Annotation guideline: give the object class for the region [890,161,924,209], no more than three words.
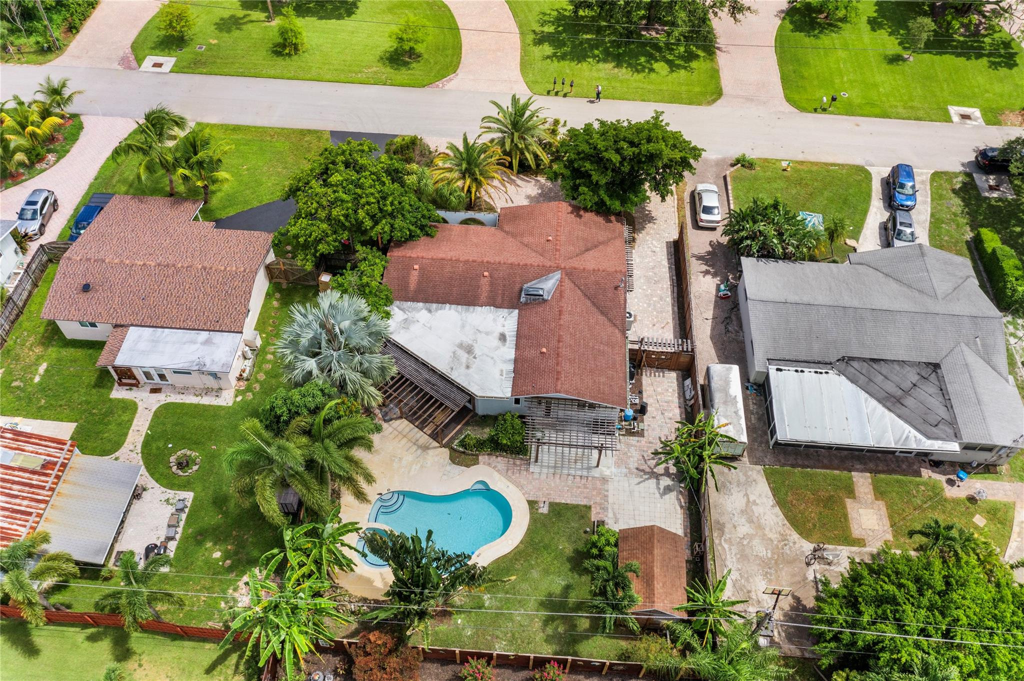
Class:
car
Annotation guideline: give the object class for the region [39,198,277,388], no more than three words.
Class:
house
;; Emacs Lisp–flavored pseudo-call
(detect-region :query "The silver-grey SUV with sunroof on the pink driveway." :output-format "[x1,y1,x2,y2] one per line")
[13,188,58,240]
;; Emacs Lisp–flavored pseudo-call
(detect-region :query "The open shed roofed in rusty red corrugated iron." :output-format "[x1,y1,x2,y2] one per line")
[0,429,82,534]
